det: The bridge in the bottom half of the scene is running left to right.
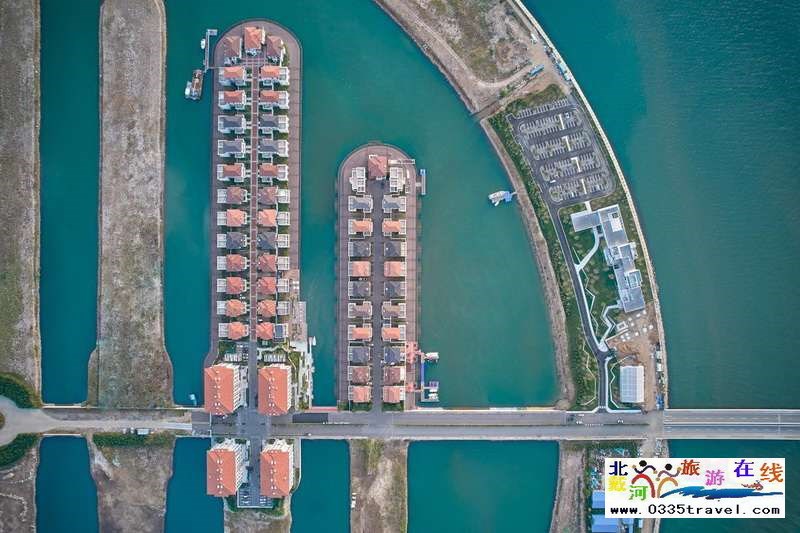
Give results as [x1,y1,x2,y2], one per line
[667,410,800,442]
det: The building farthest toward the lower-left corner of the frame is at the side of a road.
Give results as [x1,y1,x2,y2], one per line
[205,438,250,495]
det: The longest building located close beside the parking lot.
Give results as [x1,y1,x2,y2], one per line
[570,204,645,313]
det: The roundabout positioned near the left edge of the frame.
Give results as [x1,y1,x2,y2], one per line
[0,396,55,445]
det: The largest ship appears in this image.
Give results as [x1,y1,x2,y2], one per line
[191,70,205,99]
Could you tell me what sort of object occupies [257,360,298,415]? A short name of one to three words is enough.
building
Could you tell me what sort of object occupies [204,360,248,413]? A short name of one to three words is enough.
building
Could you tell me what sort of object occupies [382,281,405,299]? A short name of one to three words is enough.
house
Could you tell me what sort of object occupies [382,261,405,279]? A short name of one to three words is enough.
house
